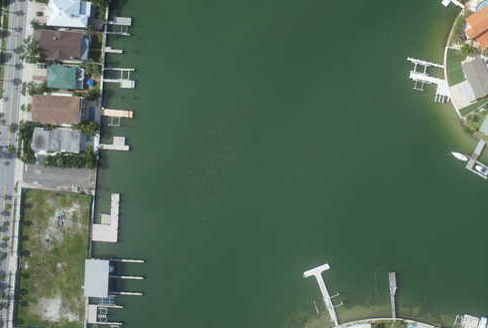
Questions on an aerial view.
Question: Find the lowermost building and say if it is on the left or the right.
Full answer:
The lowermost building sits on the left side.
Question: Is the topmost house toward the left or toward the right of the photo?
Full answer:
You can find the topmost house on the left side of the picture.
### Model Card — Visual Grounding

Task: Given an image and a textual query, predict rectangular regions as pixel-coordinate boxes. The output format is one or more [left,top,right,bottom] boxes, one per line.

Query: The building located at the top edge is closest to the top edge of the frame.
[47,0,91,27]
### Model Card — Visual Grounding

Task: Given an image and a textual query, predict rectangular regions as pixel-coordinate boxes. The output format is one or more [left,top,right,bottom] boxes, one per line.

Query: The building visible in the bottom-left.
[84,259,111,297]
